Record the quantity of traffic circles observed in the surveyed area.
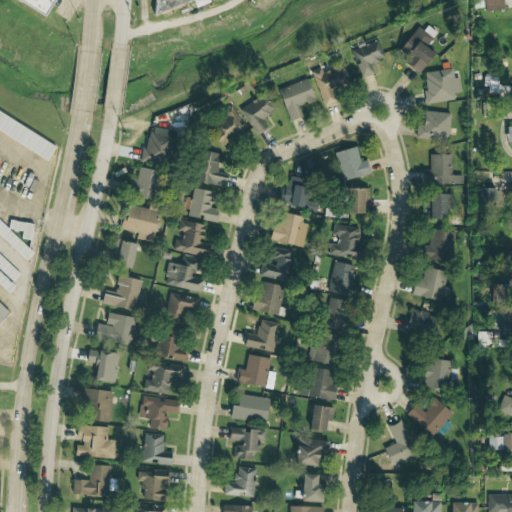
0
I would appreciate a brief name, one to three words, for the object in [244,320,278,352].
house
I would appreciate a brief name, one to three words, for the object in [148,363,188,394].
house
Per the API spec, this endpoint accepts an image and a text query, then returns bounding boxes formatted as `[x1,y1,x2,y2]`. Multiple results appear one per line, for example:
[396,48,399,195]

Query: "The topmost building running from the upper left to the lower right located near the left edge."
[0,111,56,160]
